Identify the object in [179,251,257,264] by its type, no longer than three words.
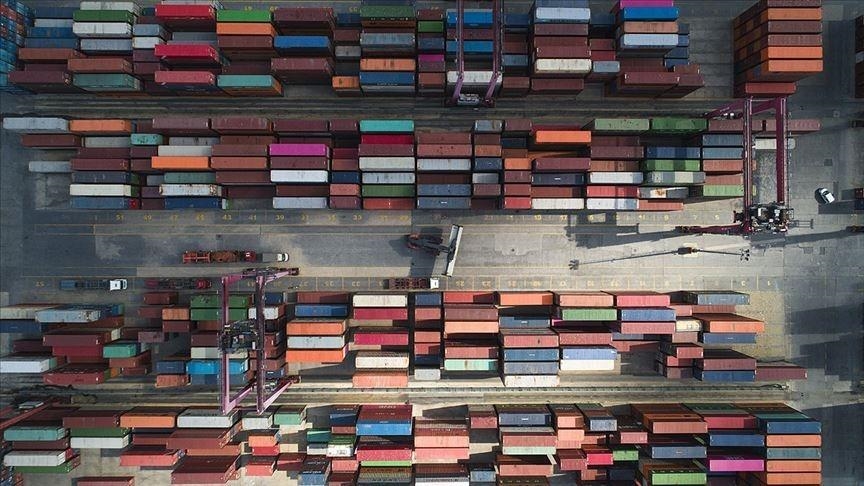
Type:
vehicle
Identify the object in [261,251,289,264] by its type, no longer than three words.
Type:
vehicle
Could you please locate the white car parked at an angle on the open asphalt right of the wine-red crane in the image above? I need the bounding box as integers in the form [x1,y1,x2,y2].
[816,186,834,205]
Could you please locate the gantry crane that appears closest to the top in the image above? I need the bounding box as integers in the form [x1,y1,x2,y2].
[438,0,504,105]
